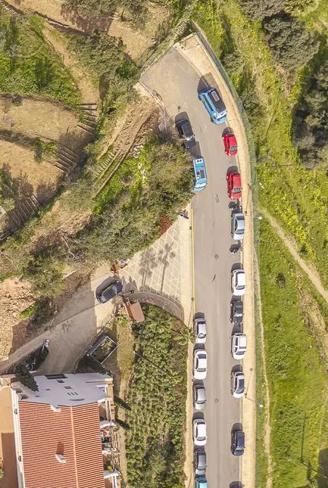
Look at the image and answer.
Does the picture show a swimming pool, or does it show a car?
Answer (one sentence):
It is a car that can be seen here.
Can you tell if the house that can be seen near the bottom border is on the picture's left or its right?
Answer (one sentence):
The house that can be seen near the bottom border is on the left side of the image.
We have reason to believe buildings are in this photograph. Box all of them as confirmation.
[118,294,146,321]
[0,373,115,488]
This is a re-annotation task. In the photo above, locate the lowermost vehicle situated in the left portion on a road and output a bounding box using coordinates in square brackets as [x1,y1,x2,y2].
[97,280,123,301]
